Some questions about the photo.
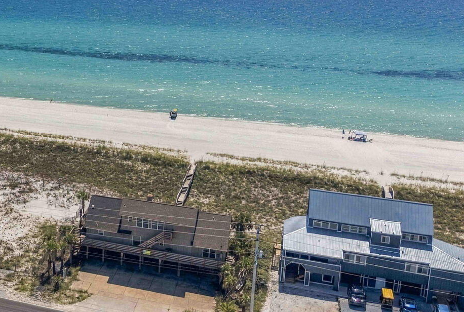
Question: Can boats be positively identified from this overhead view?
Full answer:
No, I can't see a single boat in this photo.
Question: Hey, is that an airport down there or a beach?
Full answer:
This image shows a beach.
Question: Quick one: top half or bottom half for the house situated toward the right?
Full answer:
The bottom half of the photo is where the house situated toward the right is.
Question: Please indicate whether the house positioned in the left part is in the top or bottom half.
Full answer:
The house positioned in the left part sits in the bottom half of the picture.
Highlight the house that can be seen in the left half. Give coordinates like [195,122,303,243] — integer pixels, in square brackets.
[70,191,233,283]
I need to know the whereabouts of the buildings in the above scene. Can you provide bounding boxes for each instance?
[279,187,464,302]
[70,191,233,283]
